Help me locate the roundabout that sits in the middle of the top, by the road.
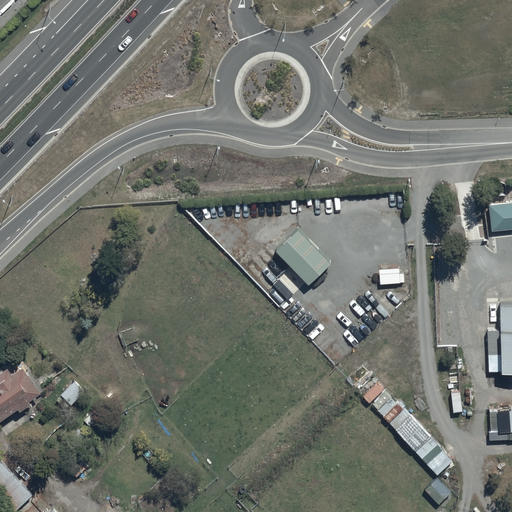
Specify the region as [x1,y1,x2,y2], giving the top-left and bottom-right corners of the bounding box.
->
[214,32,331,147]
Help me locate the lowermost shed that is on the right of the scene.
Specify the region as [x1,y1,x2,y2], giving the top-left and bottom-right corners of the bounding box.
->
[424,476,452,504]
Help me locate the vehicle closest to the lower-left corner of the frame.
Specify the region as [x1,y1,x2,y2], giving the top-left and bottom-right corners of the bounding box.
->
[14,465,31,480]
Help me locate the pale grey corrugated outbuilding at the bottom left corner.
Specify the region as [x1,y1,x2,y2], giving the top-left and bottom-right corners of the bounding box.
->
[0,459,32,510]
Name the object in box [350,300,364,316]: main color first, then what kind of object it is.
white vehicle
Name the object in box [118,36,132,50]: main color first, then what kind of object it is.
white car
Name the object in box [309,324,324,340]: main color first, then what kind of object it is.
white vehicle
